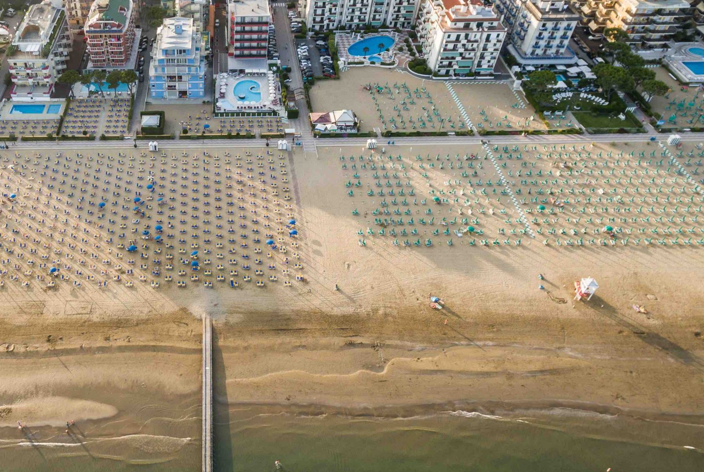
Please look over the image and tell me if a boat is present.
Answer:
No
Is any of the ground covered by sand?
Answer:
Yes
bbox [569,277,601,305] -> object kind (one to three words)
shed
